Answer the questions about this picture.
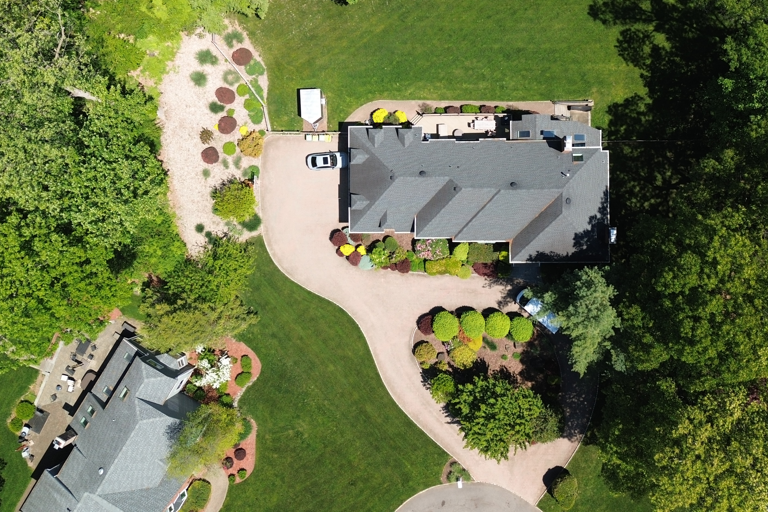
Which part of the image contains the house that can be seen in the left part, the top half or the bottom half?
bottom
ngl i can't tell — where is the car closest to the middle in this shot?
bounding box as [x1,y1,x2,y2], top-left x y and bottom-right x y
[307,151,349,170]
